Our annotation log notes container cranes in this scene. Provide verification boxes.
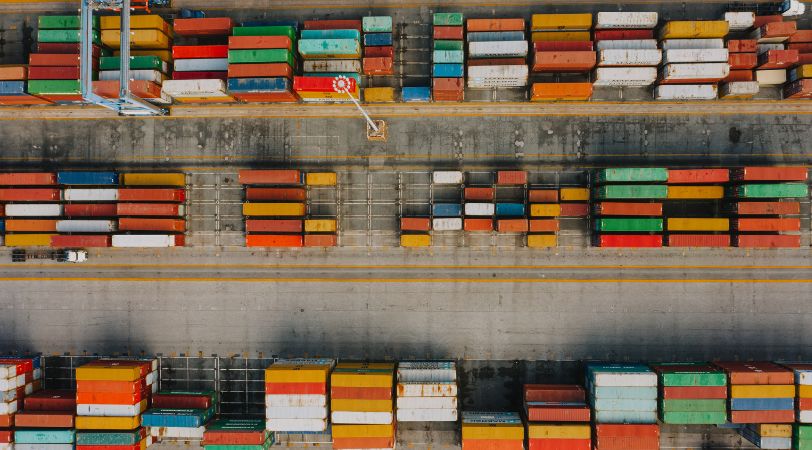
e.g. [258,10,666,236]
[81,0,168,113]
